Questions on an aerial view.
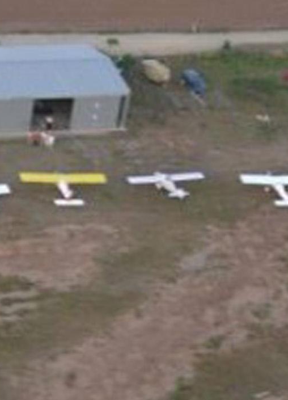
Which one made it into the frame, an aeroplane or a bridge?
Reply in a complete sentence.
The image shows an aeroplane.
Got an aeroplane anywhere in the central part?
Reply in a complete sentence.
Yes, there is an aeroplane in the central part.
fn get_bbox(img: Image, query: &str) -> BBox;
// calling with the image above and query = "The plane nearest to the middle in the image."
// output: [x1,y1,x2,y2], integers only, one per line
[128,172,206,199]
